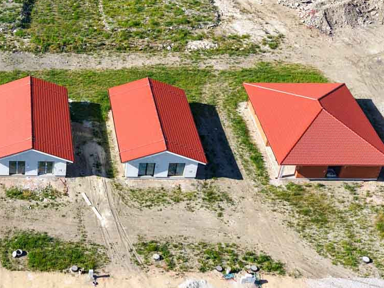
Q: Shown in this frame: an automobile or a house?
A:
house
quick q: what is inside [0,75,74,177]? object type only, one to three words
house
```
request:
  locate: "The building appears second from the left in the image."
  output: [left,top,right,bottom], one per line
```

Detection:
[108,75,207,178]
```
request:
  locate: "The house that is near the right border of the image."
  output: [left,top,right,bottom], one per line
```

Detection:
[243,82,384,179]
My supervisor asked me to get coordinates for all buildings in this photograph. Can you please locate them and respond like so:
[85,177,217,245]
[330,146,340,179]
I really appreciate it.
[243,82,384,179]
[0,75,74,177]
[108,75,207,178]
